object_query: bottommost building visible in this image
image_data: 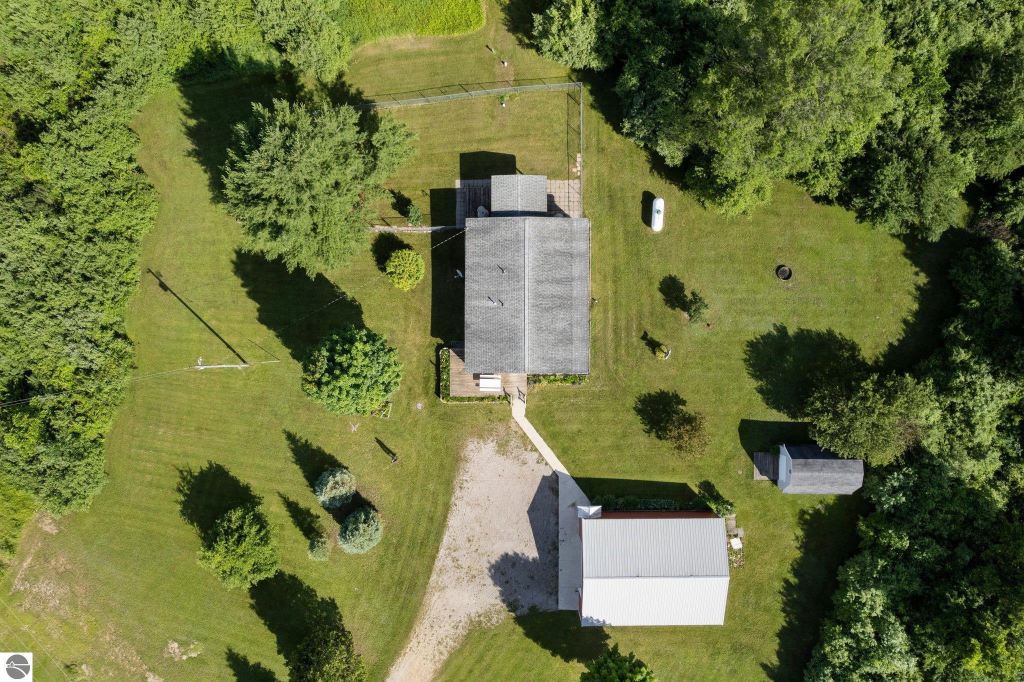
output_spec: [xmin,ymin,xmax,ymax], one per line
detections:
[578,506,730,626]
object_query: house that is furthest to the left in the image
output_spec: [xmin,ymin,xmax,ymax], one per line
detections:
[465,175,591,374]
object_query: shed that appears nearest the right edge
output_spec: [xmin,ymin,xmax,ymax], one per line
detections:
[777,442,864,494]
